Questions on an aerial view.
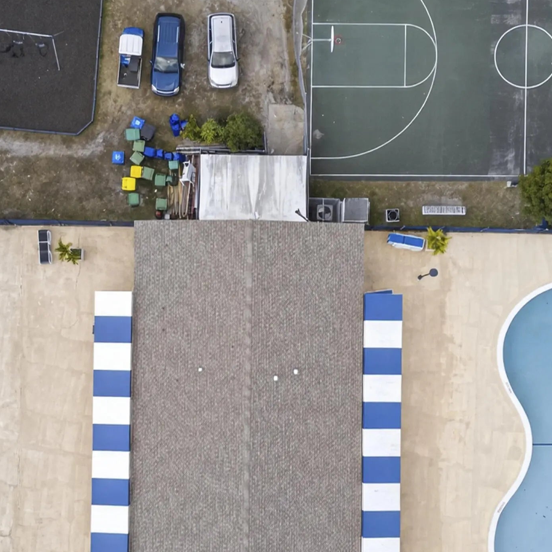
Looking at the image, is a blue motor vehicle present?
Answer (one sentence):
Yes, the image includes a blue motor vehicle.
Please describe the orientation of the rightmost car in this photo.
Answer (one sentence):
The rightmost car is laid out vertically.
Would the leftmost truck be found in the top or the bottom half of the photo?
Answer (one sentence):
It is in the top half that the leftmost truck appears.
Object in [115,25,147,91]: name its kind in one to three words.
truck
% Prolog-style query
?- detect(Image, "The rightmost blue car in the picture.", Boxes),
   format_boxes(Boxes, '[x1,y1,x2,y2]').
[147,9,186,97]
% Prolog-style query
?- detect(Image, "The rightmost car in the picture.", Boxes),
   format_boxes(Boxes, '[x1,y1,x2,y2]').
[205,11,242,90]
